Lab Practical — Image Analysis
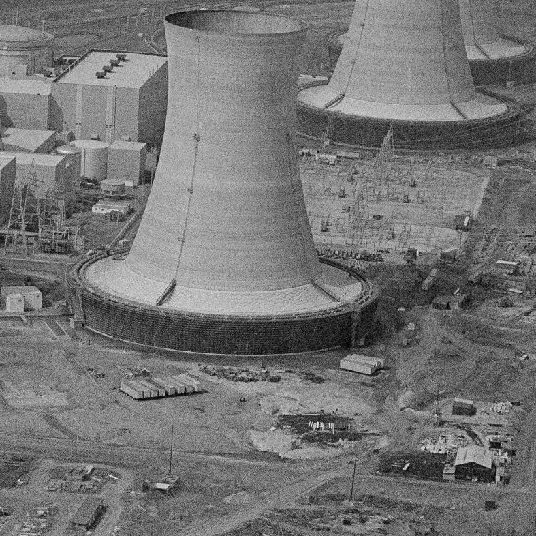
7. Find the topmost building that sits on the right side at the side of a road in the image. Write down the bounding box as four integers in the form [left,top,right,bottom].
[457,216,477,233]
